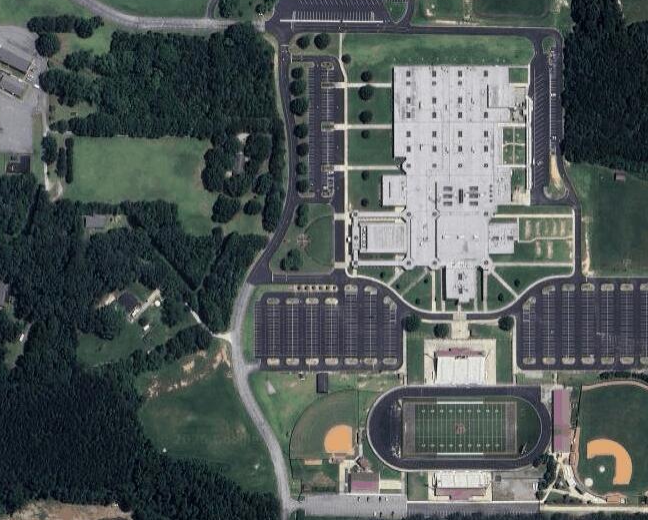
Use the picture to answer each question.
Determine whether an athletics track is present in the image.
Yes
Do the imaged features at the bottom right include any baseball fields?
Yes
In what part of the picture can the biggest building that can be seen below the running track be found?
bottom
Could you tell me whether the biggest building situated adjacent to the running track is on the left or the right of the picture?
right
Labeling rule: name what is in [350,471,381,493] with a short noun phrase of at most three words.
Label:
building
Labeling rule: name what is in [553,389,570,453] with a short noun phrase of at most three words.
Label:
building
